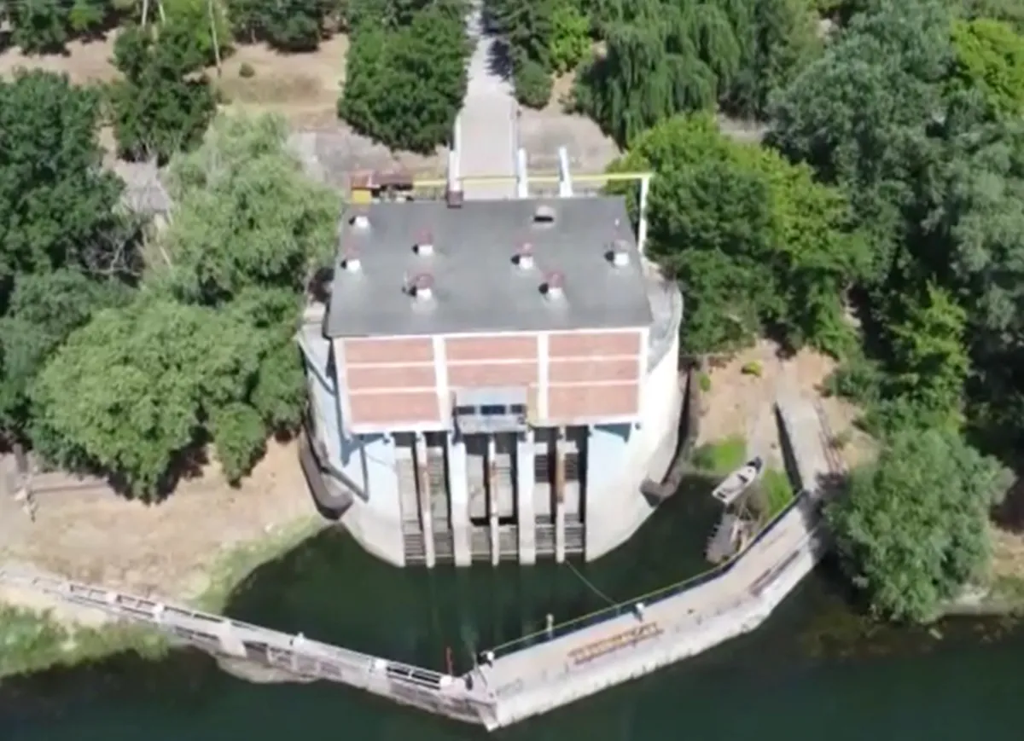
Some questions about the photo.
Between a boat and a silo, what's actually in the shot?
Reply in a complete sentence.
Of the two, only a boat appears.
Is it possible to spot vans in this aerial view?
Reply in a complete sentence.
No, the photo shows no van.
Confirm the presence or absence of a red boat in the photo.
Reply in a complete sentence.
No, the scene contains no red boat.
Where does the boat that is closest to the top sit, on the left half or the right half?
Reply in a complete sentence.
The boat that is closest to the top is on the right side of the image.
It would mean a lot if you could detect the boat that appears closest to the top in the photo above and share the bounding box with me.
[713,460,760,508]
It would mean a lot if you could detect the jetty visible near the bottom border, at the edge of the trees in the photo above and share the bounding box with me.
[477,489,873,732]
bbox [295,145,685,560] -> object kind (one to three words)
building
